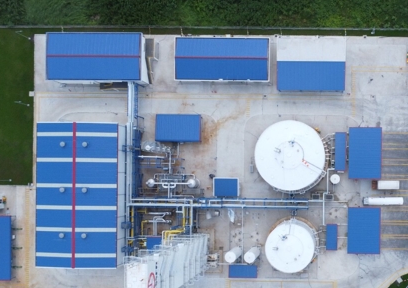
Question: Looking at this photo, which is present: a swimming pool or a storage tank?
storage tank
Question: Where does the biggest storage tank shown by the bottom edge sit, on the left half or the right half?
right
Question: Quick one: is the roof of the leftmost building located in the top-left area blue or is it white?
blue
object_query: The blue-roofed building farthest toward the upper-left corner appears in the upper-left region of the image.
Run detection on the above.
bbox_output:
[45,31,146,84]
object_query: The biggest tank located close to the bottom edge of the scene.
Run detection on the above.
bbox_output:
[264,217,327,274]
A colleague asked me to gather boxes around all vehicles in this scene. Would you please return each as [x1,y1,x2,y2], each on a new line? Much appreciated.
[370,180,399,190]
[362,196,403,207]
